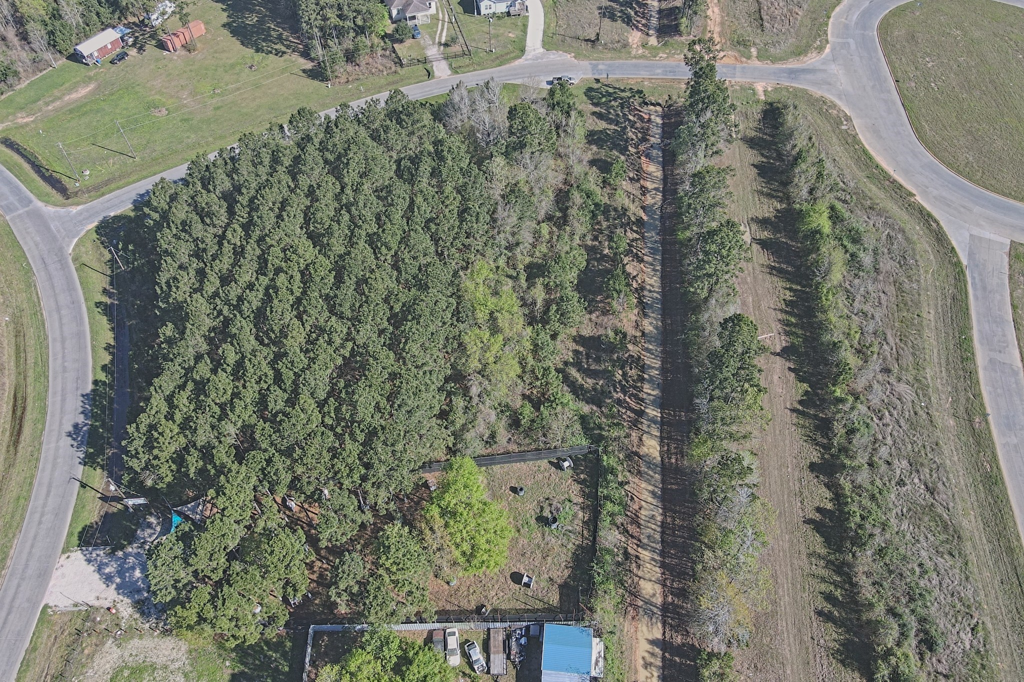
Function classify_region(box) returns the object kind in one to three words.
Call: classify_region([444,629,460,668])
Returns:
car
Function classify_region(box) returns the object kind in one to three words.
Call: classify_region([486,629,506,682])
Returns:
trailer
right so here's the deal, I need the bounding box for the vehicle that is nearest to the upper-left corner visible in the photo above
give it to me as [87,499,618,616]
[109,50,129,64]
